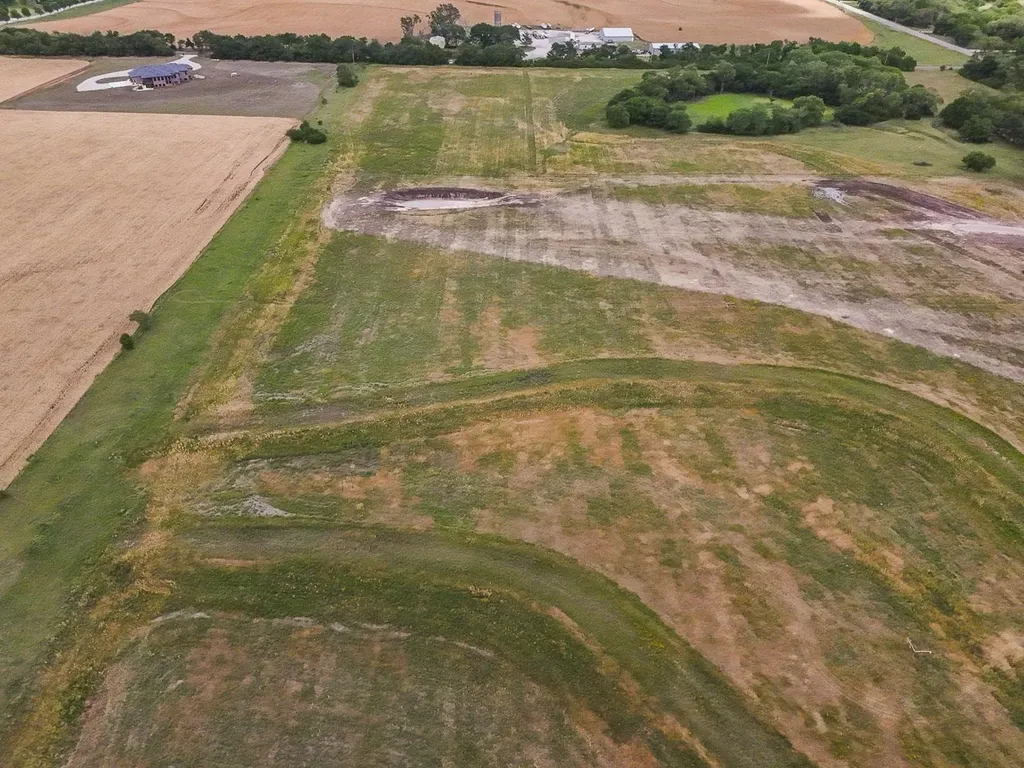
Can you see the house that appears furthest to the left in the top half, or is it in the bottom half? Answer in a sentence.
The house that appears furthest to the left is in the top half of the image.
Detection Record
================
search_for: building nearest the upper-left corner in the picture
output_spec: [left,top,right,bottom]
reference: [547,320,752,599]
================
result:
[125,62,191,88]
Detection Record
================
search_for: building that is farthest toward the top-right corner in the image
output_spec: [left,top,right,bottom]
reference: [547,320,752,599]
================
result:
[648,39,701,53]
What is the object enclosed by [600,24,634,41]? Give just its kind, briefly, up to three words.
barn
